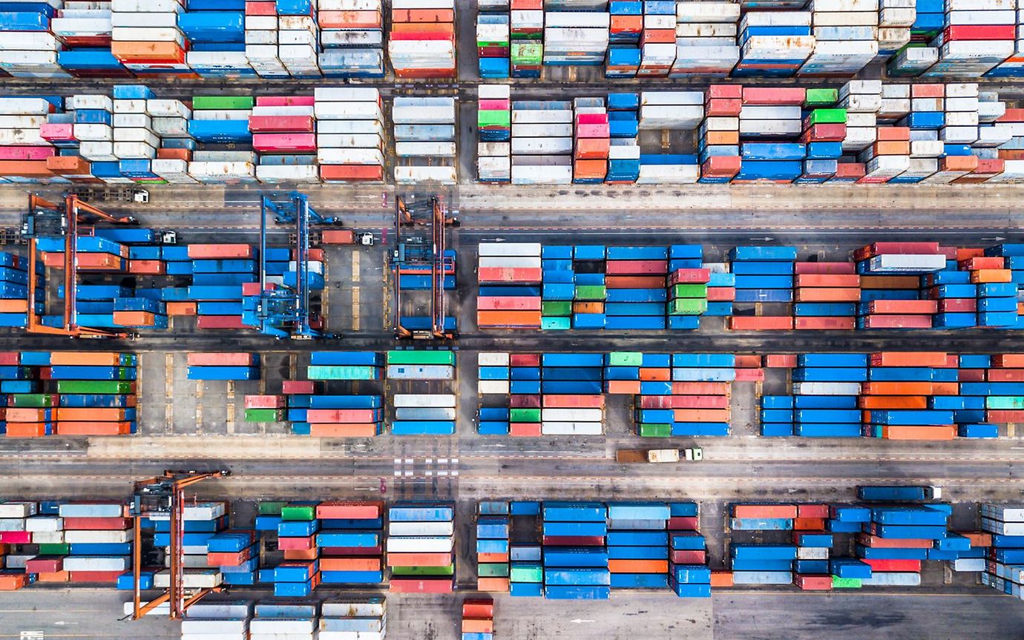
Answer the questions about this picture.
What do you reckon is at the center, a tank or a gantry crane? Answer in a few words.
gantry crane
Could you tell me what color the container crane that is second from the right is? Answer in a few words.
blue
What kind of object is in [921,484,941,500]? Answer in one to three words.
vehicle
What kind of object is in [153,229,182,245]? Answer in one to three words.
vehicle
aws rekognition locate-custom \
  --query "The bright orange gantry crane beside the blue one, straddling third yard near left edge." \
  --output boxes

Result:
[17,187,142,343]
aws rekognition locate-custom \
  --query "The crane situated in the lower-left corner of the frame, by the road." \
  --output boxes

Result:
[122,469,234,627]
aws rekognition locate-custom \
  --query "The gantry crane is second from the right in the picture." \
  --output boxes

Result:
[250,187,342,343]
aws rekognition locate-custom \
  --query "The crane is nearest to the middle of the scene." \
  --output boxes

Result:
[384,187,457,343]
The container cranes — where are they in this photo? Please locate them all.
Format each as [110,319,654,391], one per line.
[250,187,342,343]
[17,187,142,343]
[384,187,457,343]
[122,469,234,627]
